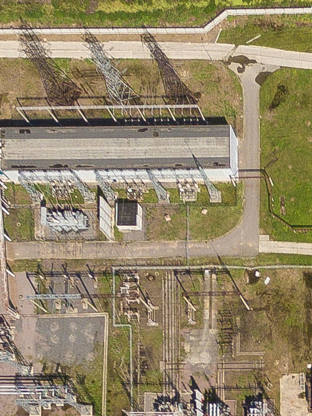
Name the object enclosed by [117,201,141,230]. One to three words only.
shed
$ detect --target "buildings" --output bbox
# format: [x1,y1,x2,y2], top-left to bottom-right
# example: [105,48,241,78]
[0,125,237,183]
[117,201,141,230]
